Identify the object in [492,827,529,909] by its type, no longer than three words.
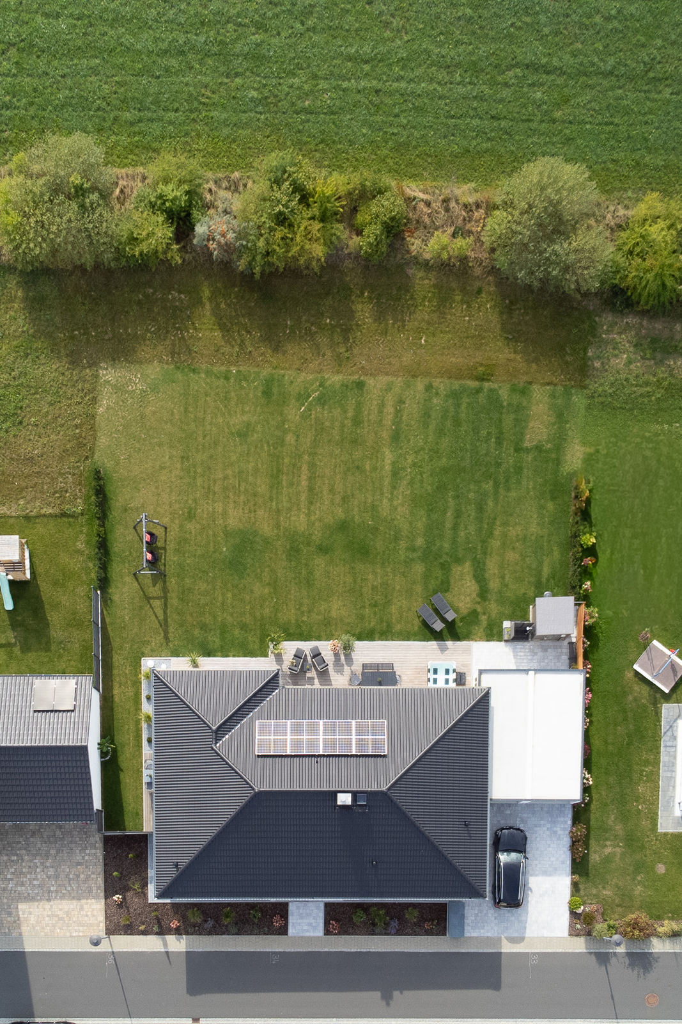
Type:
car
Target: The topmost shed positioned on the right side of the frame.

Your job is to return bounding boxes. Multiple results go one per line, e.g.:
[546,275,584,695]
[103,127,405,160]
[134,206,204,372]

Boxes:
[528,597,574,641]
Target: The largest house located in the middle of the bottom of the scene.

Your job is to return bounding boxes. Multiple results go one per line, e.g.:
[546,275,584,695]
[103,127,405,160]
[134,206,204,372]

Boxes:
[151,667,492,903]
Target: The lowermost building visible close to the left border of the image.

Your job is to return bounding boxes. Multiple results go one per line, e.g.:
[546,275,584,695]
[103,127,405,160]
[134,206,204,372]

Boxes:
[0,673,101,824]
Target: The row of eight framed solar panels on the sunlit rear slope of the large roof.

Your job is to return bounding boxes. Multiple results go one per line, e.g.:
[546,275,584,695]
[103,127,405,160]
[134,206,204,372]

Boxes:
[255,720,389,754]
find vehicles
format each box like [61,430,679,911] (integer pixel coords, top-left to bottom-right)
[6,1017,87,1024]
[492,827,529,909]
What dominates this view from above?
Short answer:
grass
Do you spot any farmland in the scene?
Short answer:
Yes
